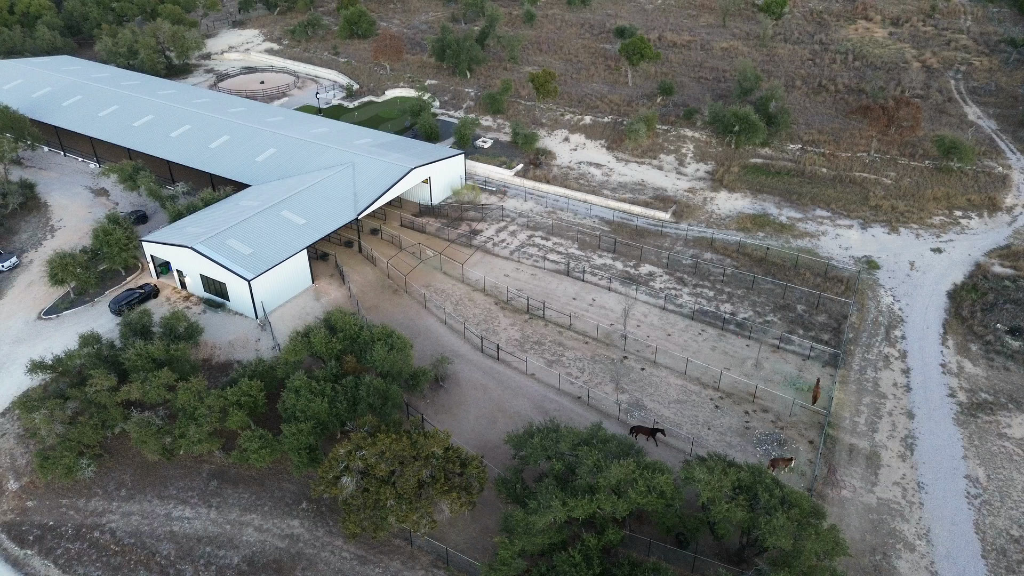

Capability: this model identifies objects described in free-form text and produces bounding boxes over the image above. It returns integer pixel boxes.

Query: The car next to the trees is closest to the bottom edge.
[109,280,166,310]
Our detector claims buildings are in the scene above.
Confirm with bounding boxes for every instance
[0,55,467,327]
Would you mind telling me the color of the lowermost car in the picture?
black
